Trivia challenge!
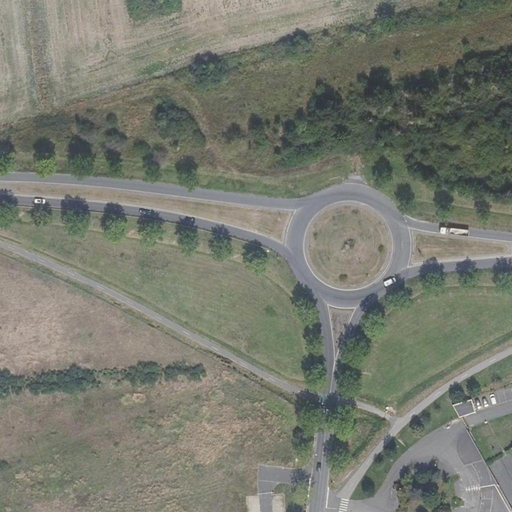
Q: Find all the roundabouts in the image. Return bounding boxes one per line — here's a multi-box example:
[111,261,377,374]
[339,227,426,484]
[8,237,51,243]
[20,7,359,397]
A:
[286,184,410,307]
